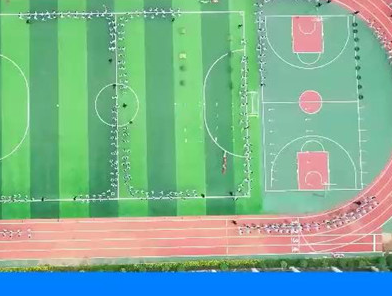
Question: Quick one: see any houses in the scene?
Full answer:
No, no house can be seen from above.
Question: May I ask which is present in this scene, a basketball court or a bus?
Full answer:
This aerial view contains a basketball court.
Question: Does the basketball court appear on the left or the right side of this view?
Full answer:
It is on the right.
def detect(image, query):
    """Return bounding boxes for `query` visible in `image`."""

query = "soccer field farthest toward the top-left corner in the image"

[0,0,263,219]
